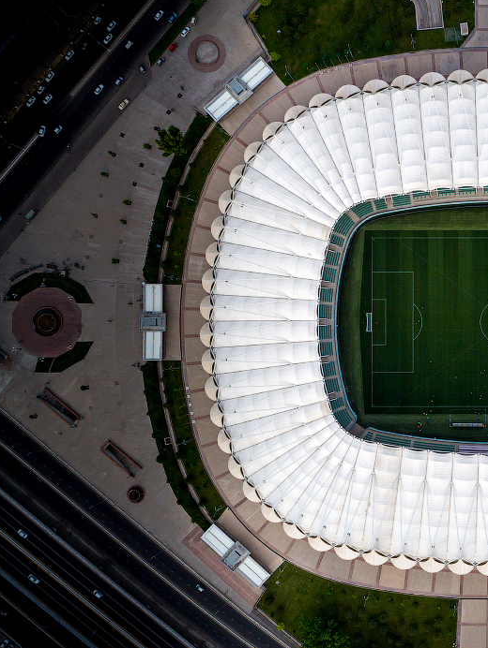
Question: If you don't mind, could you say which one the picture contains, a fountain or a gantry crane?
fountain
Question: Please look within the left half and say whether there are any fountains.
Yes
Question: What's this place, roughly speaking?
sports ground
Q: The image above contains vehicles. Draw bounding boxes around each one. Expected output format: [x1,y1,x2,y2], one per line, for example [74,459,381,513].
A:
[52,123,63,134]
[37,125,46,136]
[16,530,27,539]
[155,54,165,66]
[25,95,35,106]
[44,71,54,81]
[35,84,45,94]
[113,74,124,85]
[106,19,116,30]
[118,98,128,109]
[93,84,103,94]
[167,40,177,51]
[0,609,7,619]
[195,584,206,594]
[21,208,34,220]
[65,48,75,59]
[153,8,163,19]
[167,11,178,21]
[27,575,38,585]
[123,37,134,49]
[0,640,8,648]
[42,93,52,104]
[92,590,103,600]
[103,32,113,42]
[179,25,190,36]
[92,13,102,24]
